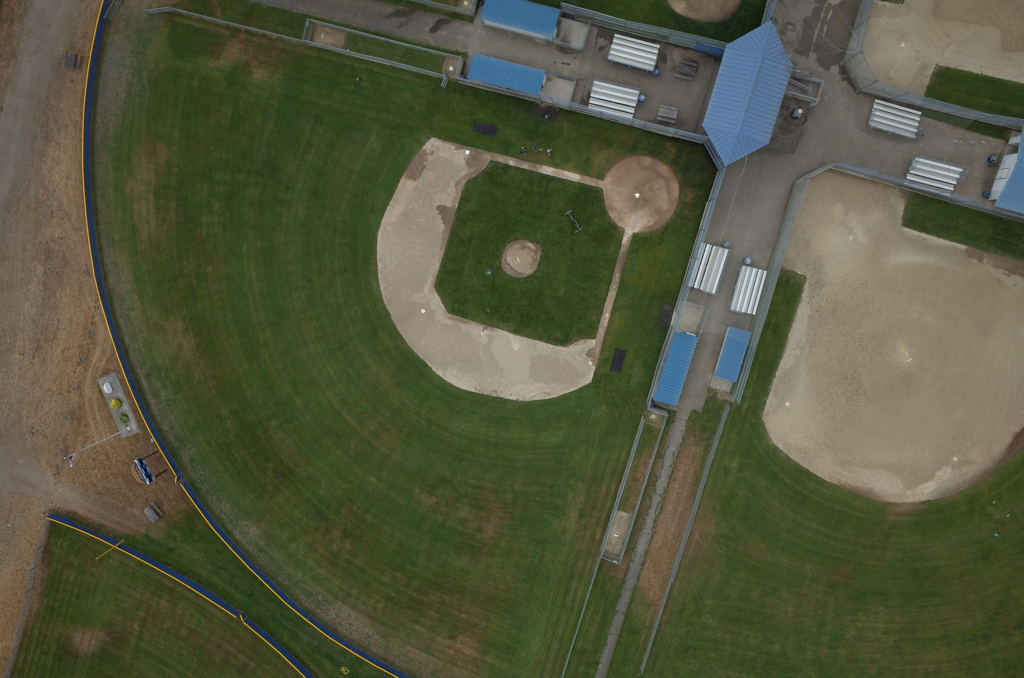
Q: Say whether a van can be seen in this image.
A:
No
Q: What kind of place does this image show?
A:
sports ground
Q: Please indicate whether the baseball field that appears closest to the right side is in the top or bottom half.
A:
top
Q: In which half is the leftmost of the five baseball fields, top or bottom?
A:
bottom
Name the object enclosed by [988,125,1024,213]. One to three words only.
shed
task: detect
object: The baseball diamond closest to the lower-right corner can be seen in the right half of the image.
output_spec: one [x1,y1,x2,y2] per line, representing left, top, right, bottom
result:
[638,165,1024,678]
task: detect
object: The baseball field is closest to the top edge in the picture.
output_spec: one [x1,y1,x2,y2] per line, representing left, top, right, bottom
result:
[550,0,767,49]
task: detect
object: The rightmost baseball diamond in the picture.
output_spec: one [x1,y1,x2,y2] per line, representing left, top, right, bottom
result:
[843,0,1024,131]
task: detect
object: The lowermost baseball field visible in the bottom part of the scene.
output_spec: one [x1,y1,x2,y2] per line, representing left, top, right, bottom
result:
[10,515,306,678]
